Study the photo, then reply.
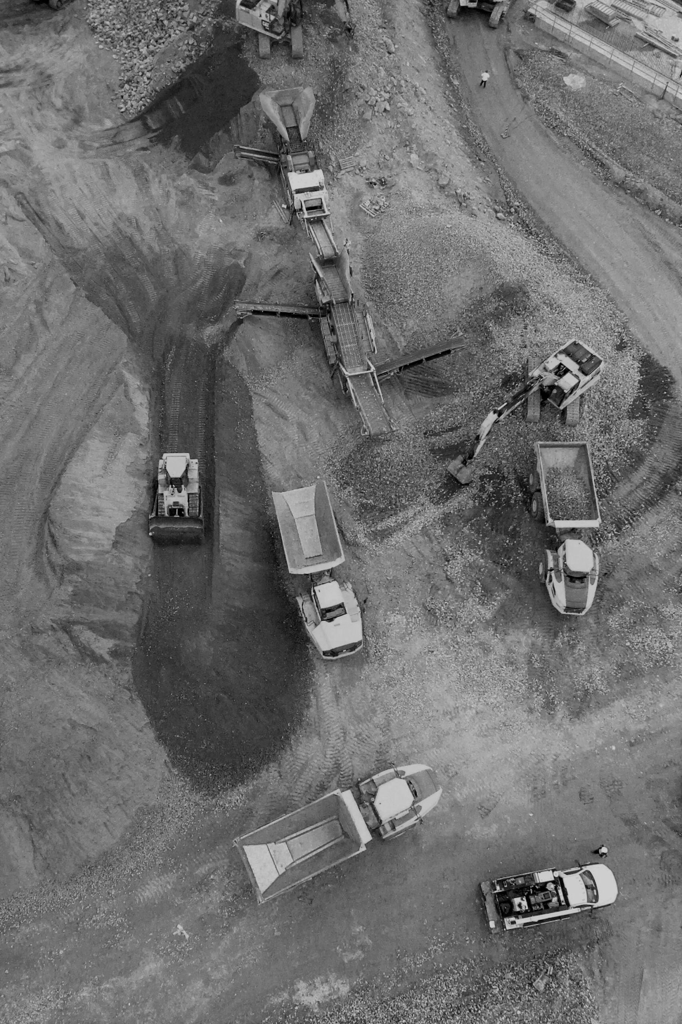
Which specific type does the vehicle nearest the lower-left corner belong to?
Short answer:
truck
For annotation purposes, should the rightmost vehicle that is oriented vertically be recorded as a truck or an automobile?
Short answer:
truck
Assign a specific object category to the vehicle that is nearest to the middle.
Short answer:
truck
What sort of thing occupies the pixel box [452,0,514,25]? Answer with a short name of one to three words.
work vehicle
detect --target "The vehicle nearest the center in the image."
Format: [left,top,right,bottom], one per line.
[272,479,361,665]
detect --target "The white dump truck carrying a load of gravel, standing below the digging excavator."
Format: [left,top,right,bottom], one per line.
[530,438,608,615]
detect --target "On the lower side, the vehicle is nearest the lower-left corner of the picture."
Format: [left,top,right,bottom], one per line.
[229,761,442,911]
